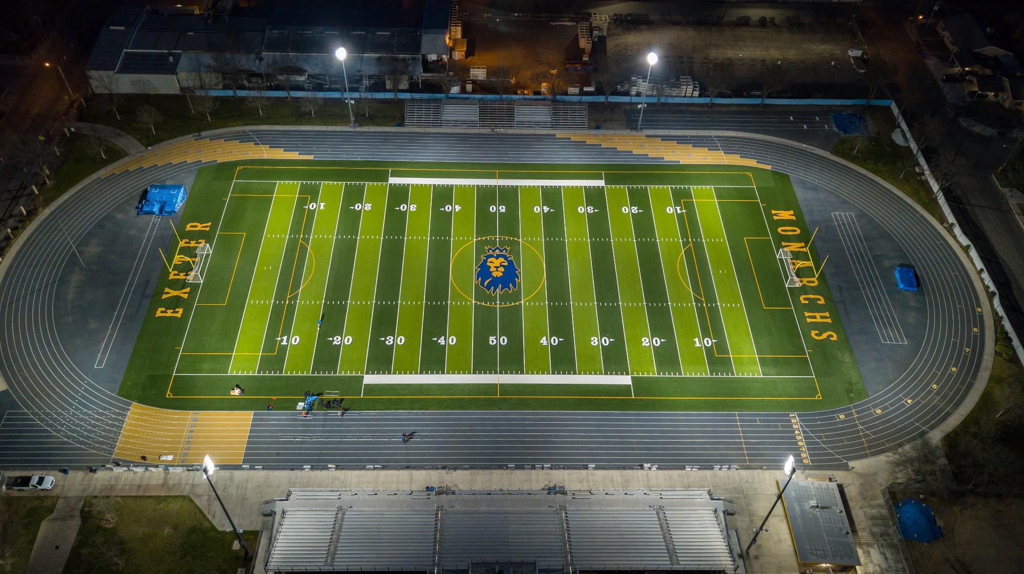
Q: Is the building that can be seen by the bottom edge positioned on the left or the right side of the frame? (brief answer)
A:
right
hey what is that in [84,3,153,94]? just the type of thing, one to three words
house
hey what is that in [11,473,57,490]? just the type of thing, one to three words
vehicle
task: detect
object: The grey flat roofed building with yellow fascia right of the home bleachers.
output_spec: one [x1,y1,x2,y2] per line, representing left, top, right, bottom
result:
[778,482,861,569]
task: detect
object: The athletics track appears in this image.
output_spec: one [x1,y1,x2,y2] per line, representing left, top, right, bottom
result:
[0,114,986,468]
